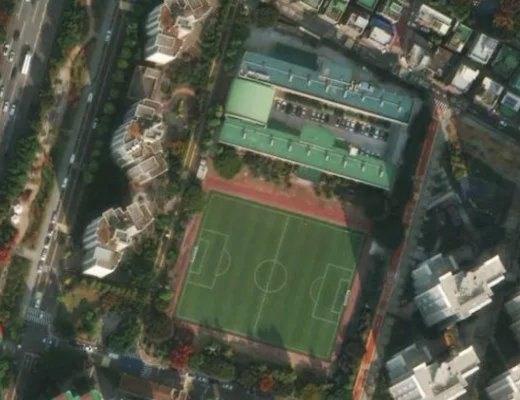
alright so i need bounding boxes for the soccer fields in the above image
[176,188,362,362]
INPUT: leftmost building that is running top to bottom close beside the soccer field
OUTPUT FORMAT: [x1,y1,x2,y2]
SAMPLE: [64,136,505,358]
[112,70,168,189]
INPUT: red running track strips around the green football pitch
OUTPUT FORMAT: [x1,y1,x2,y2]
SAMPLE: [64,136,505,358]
[169,173,376,369]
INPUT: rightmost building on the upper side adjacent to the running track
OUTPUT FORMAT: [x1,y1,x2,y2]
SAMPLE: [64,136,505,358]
[216,51,413,191]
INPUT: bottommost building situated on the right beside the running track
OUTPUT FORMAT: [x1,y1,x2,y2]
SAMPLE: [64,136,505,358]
[385,345,482,400]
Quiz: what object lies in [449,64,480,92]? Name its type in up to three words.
house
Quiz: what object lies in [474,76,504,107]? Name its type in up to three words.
house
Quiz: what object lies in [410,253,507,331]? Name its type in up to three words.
building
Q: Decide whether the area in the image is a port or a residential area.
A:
residential area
